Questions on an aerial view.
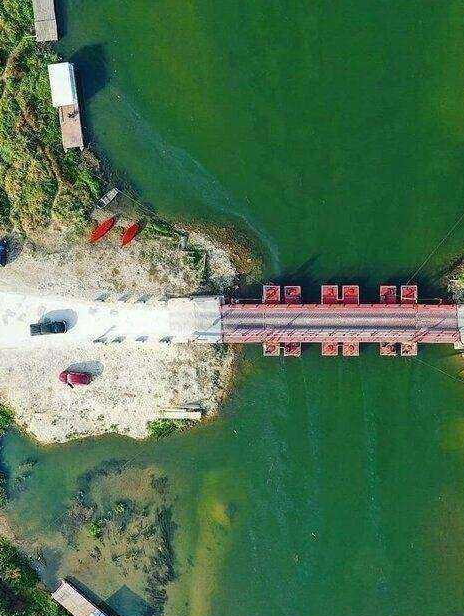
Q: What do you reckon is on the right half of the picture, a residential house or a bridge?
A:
bridge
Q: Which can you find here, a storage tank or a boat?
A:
boat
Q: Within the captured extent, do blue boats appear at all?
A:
No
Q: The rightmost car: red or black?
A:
red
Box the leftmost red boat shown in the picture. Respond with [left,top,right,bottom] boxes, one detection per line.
[90,216,117,242]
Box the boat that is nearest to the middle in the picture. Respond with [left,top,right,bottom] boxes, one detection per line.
[122,222,140,245]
